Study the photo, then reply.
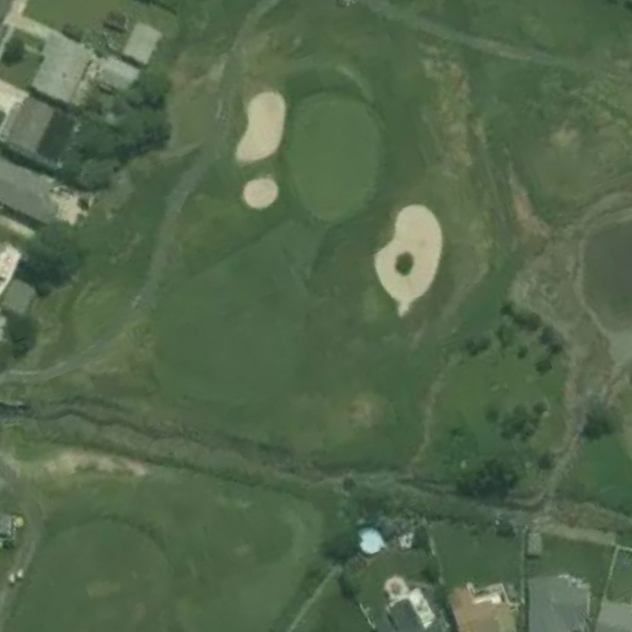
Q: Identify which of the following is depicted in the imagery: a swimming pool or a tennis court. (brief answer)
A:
swimming pool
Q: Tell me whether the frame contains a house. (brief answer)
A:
Yes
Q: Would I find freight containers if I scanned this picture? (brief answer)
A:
No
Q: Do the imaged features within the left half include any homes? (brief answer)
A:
Yes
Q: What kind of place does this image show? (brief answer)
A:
golf course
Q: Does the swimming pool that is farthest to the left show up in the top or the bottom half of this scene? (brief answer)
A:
bottom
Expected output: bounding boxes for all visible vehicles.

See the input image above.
[16,567,23,578]
[7,572,14,583]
